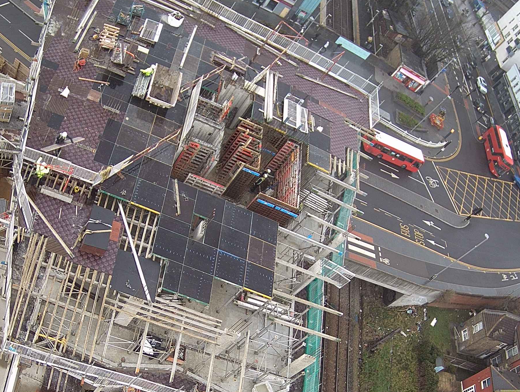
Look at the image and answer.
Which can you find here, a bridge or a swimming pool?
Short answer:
bridge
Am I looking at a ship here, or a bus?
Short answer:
bus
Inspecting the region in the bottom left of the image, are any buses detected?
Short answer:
No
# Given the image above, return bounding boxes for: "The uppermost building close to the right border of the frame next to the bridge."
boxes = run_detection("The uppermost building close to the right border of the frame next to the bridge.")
[455,309,520,379]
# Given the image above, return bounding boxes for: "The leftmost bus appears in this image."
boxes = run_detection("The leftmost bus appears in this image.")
[364,134,428,172]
